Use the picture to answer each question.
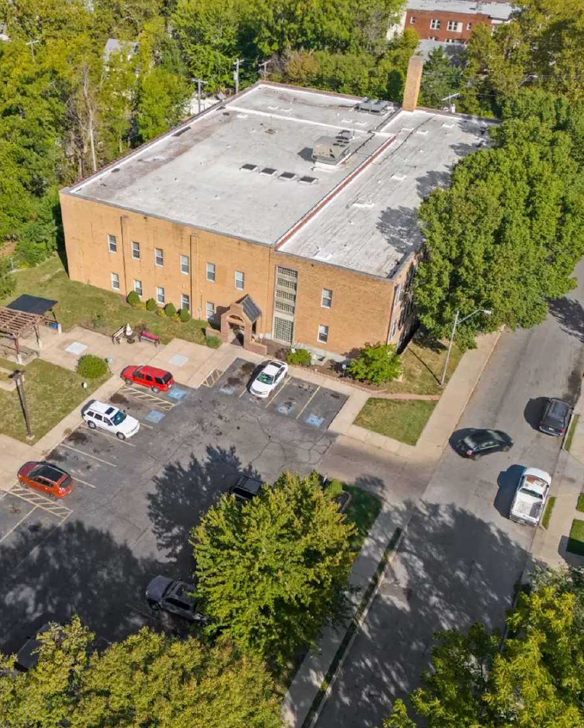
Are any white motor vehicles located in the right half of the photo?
Yes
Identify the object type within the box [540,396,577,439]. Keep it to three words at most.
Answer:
car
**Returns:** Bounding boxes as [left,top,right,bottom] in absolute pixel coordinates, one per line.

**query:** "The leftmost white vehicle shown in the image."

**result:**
[81,397,144,440]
